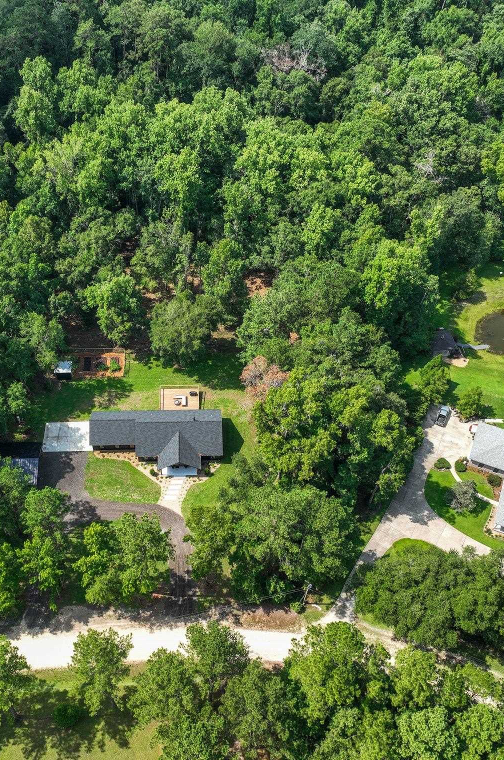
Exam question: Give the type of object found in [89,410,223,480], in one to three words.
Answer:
house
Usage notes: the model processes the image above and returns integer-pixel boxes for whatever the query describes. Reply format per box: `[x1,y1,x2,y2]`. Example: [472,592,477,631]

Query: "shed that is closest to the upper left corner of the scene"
[53,361,73,380]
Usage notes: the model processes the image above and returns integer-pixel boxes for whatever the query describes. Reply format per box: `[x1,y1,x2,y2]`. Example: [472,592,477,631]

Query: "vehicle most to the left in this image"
[433,402,453,427]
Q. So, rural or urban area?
rural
